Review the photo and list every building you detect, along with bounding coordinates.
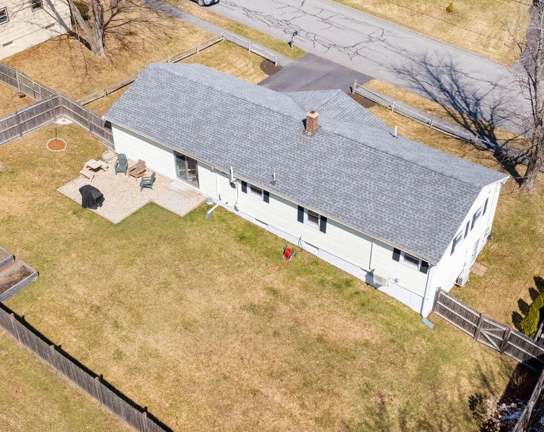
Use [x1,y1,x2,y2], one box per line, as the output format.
[100,63,511,315]
[0,0,71,62]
